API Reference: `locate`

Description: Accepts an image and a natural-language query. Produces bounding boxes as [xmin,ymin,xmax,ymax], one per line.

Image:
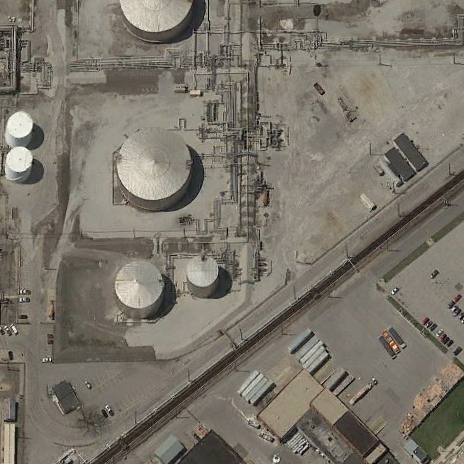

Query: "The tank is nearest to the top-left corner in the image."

[6,111,34,148]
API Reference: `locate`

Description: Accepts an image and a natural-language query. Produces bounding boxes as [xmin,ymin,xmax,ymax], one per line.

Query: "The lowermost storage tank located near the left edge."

[5,146,33,185]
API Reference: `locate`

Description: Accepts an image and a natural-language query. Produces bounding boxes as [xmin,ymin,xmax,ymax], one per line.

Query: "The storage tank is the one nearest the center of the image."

[186,253,219,299]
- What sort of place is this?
industrial area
